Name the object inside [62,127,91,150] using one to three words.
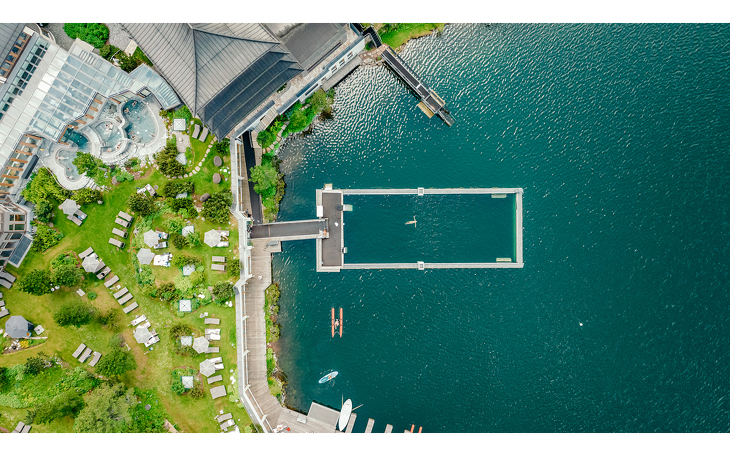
swimming pool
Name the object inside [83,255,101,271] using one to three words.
umbrella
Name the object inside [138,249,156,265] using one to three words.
umbrella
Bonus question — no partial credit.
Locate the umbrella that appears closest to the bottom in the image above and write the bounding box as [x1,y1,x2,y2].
[200,359,216,375]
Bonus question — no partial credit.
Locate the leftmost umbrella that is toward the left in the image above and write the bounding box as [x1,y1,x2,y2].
[6,315,33,338]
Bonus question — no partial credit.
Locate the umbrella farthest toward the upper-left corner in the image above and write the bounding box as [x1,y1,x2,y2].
[61,199,82,215]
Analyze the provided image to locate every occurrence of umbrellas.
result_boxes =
[138,249,156,265]
[134,326,153,343]
[193,336,210,353]
[83,255,101,271]
[61,199,82,215]
[6,315,33,338]
[144,230,162,246]
[200,359,216,375]
[205,229,221,248]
